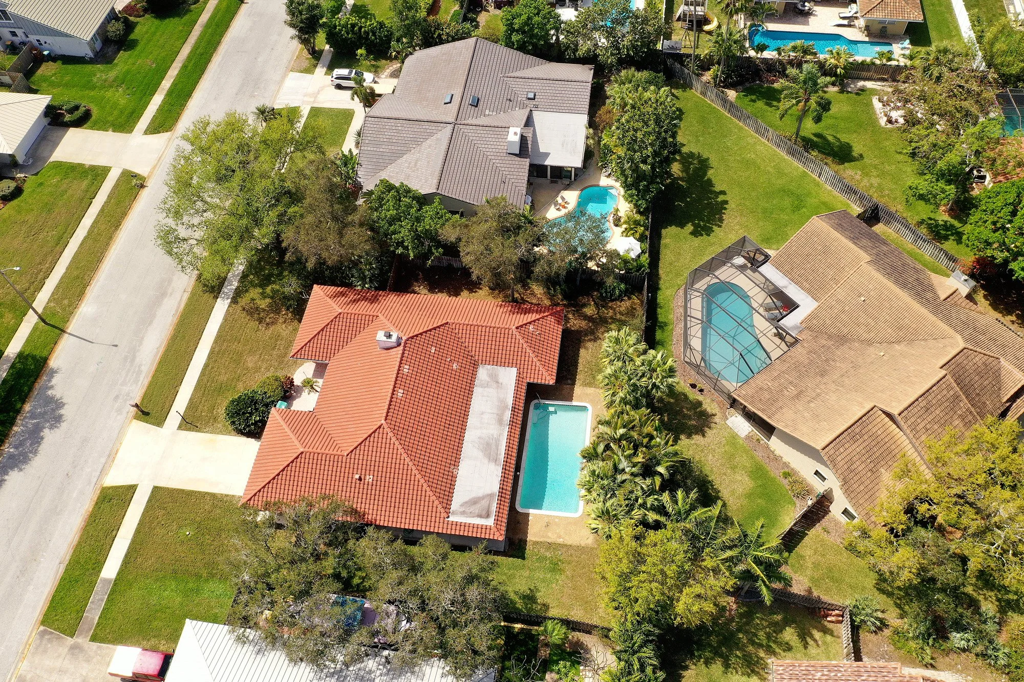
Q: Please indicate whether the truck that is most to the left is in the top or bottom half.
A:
bottom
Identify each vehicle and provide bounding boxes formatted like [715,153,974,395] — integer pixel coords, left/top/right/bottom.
[105,646,175,682]
[327,69,376,93]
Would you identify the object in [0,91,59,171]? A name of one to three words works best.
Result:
house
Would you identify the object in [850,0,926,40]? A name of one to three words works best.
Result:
building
